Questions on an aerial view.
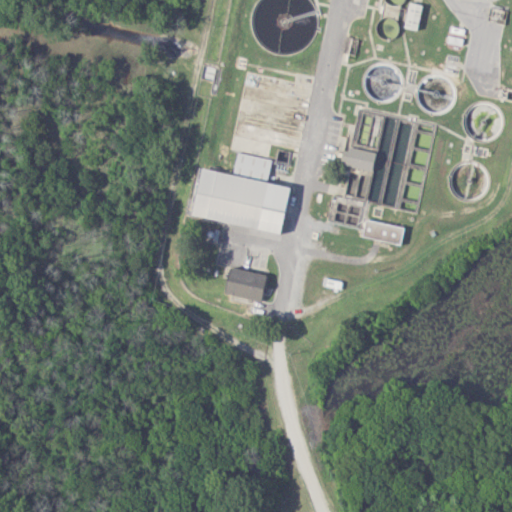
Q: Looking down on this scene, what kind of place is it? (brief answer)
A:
industrial area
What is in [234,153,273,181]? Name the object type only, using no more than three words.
building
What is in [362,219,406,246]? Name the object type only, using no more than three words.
building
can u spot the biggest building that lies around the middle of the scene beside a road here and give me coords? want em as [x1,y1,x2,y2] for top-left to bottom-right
[191,168,292,234]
